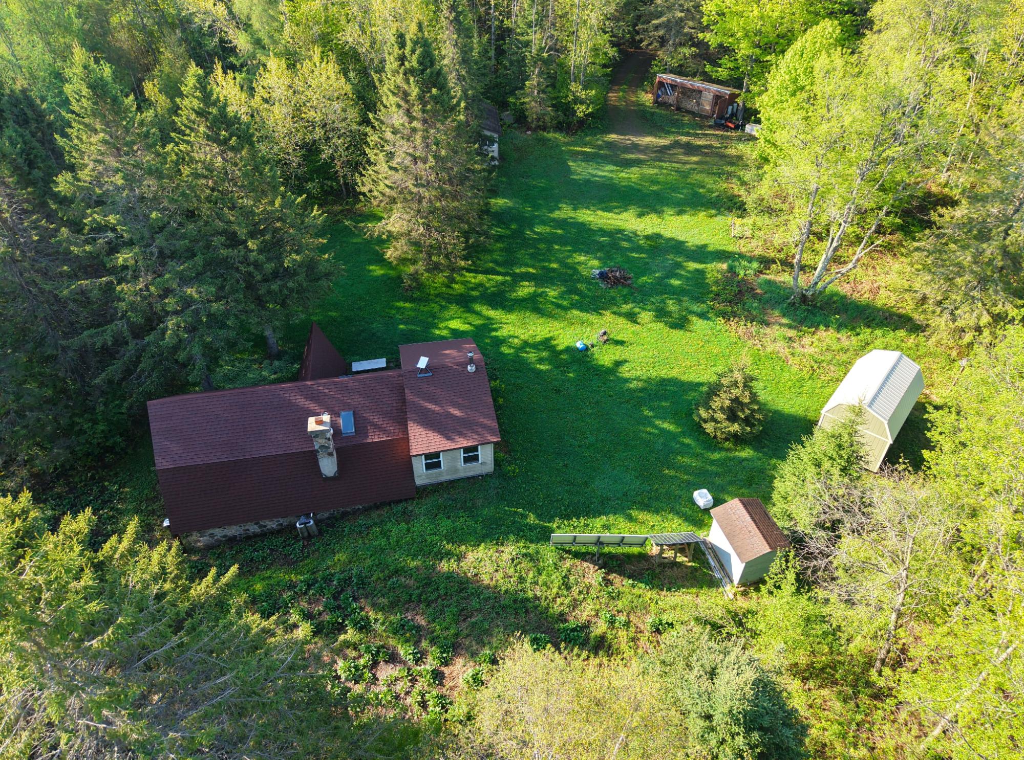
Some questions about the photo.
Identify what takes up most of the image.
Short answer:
trees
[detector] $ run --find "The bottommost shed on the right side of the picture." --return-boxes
[704,498,792,585]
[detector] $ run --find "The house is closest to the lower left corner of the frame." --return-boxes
[152,322,498,542]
